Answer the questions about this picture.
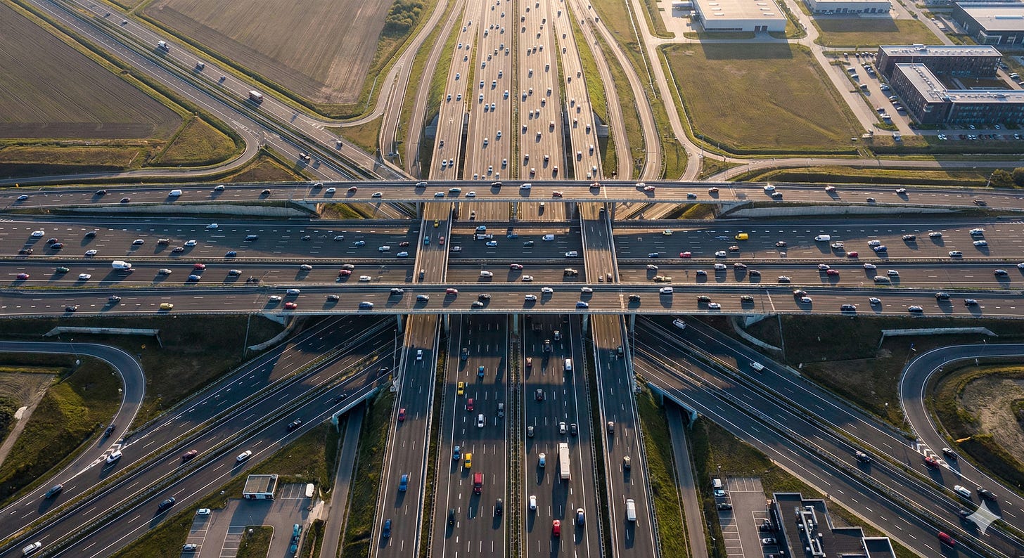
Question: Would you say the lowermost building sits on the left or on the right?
right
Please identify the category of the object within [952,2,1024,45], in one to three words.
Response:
building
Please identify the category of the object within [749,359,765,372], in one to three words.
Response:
vehicle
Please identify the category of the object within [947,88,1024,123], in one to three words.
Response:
building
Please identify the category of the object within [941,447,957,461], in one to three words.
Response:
car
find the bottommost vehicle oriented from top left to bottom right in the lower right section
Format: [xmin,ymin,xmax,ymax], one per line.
[937,531,957,546]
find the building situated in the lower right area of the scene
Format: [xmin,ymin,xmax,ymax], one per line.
[769,492,897,558]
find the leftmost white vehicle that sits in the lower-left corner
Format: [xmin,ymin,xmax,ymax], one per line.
[22,541,42,556]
